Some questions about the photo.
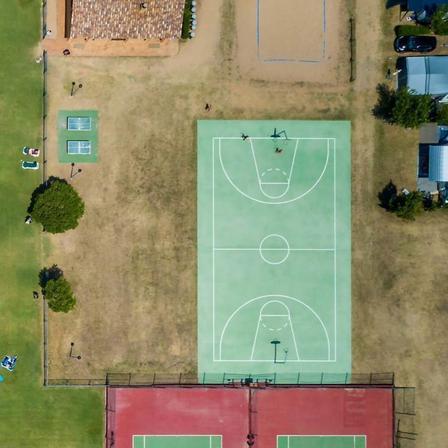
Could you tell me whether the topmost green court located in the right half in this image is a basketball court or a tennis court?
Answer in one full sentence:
From above, the topmost green court located in the right half can be identified as a basketball court.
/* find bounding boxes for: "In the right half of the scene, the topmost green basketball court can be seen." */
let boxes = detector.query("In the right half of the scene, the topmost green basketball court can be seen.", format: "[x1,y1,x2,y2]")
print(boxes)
[197,121,351,383]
